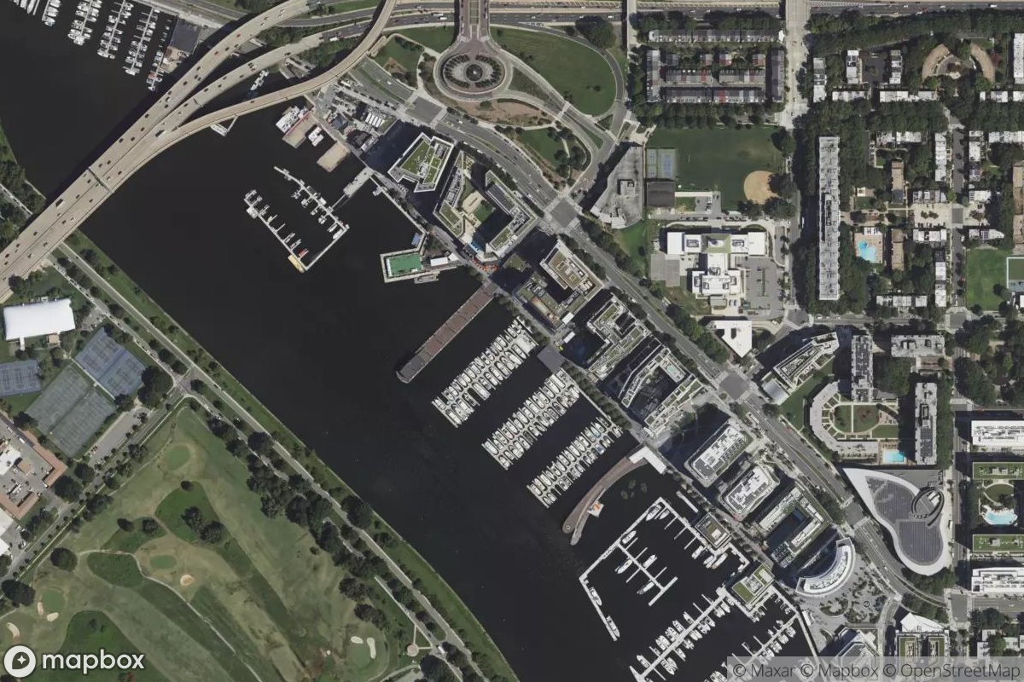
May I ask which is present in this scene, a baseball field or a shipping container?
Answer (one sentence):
Of the two, only a baseball field appears.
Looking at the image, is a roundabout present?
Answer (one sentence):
Yes, the picture does show a roundabout.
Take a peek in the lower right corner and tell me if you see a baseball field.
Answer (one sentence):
No, no baseball field can be made out in the lower right corner.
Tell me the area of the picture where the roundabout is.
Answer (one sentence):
You can find the roundabout in the top area of the picture.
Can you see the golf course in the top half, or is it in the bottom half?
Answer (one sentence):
The golf course is in the bottom half of the image.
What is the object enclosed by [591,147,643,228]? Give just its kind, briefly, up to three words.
building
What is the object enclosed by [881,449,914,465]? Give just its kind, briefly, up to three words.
swimming pool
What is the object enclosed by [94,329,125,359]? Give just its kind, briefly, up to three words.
tennis court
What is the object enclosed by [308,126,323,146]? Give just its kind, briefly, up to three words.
ship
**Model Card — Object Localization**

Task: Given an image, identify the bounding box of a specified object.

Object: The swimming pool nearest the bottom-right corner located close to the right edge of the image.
[981,505,1019,525]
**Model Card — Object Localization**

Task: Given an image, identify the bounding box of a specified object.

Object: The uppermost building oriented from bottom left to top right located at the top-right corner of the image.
[921,43,952,85]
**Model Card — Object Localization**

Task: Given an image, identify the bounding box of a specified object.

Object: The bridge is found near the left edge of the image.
[0,0,396,303]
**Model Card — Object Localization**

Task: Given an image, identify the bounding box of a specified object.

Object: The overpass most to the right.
[786,0,810,24]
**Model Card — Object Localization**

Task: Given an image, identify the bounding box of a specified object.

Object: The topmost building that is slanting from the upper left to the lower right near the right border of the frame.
[968,42,995,84]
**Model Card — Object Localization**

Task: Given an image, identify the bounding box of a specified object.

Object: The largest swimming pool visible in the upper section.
[854,233,883,263]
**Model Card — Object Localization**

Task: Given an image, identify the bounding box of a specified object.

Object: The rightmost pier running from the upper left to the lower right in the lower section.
[665,492,749,568]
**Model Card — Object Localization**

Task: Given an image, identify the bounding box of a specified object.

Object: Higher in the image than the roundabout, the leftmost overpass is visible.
[458,0,491,39]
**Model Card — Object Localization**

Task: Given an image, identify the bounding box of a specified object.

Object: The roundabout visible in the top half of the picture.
[433,39,509,102]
